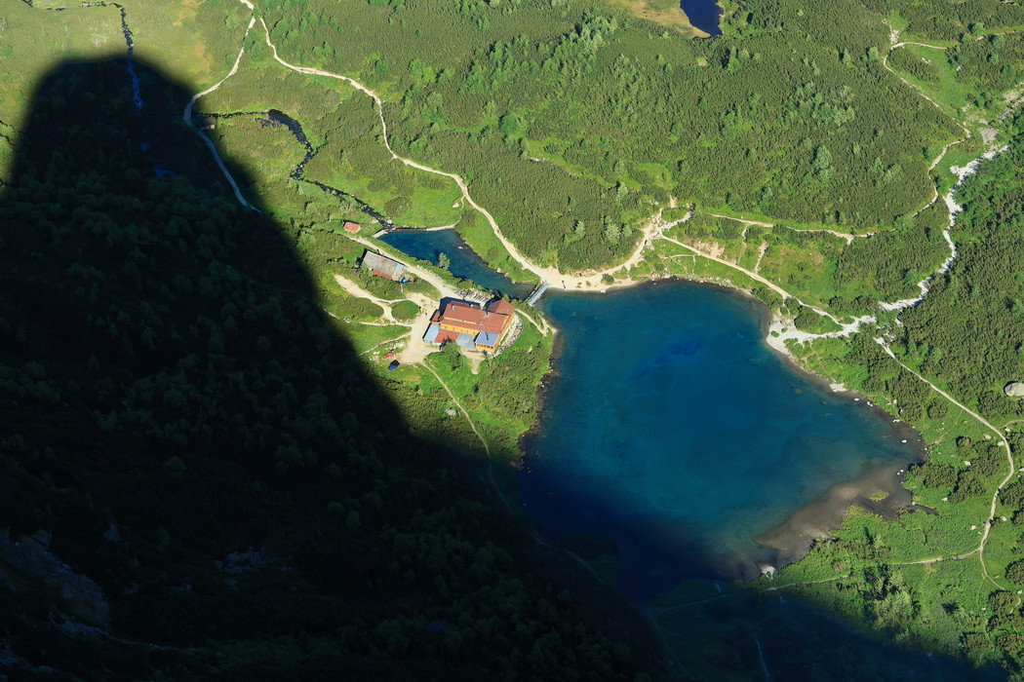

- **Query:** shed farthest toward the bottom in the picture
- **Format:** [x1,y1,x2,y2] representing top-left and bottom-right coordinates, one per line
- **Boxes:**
[424,298,516,353]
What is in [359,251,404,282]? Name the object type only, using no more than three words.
barn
